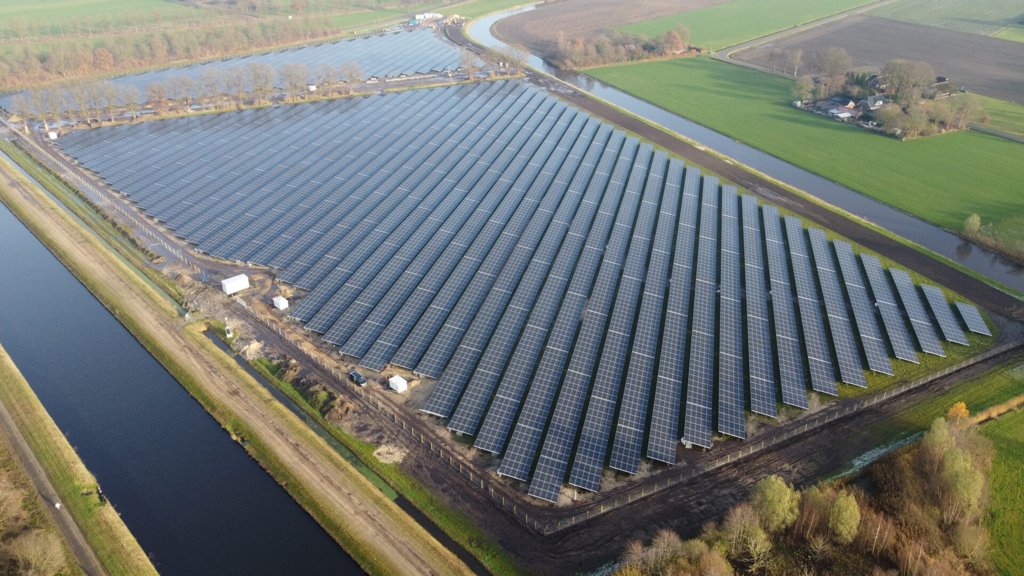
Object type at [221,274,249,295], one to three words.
building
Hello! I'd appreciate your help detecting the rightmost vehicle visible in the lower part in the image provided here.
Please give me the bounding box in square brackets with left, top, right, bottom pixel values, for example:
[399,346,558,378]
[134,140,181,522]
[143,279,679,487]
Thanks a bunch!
[347,368,368,387]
